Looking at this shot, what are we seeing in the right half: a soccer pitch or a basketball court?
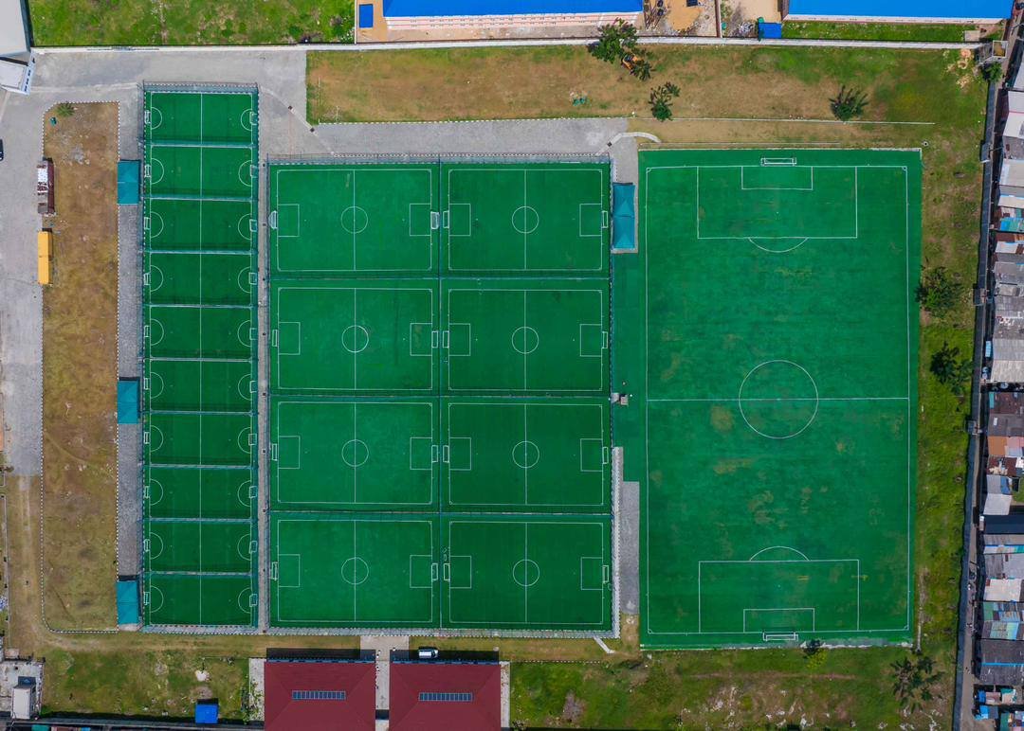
soccer pitch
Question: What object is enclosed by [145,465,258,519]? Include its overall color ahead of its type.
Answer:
green soccer field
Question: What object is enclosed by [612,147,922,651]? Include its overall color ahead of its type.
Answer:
green soccer field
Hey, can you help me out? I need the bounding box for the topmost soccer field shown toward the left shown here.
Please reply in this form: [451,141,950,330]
[145,93,258,145]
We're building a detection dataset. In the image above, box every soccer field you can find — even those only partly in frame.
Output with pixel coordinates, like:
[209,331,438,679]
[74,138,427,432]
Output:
[145,412,258,466]
[145,572,258,626]
[612,147,922,651]
[440,513,611,628]
[145,144,258,199]
[145,305,258,359]
[440,164,611,276]
[270,514,439,628]
[440,397,611,513]
[145,93,258,145]
[440,278,611,396]
[270,279,439,396]
[145,198,258,252]
[145,465,258,519]
[145,251,258,305]
[145,518,256,572]
[270,164,439,278]
[270,397,439,513]
[145,358,258,412]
